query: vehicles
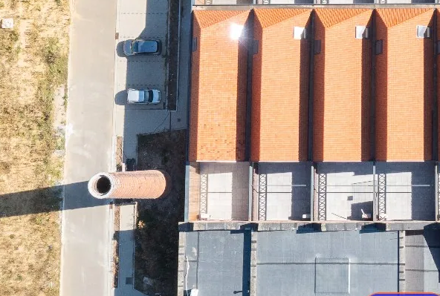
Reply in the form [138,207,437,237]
[125,38,162,56]
[128,87,164,105]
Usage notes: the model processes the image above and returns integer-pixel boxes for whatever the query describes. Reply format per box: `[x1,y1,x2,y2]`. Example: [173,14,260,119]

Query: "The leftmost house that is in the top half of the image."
[188,8,253,163]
